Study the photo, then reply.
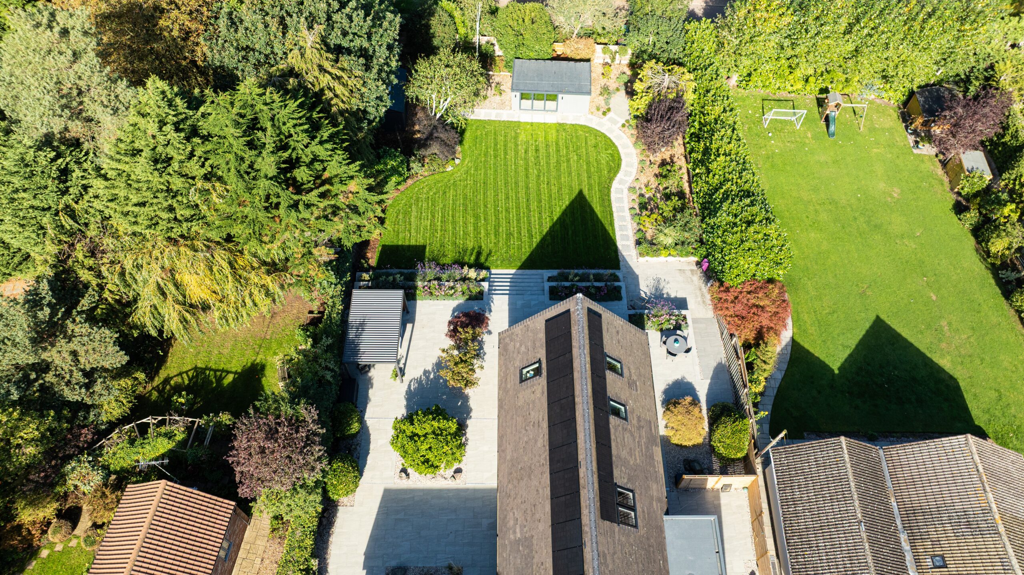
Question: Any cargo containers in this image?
No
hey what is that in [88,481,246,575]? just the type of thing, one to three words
building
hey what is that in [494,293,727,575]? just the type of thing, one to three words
house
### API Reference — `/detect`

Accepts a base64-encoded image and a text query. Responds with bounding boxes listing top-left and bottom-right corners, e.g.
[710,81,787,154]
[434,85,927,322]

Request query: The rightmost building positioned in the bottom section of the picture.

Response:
[760,434,1024,575]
